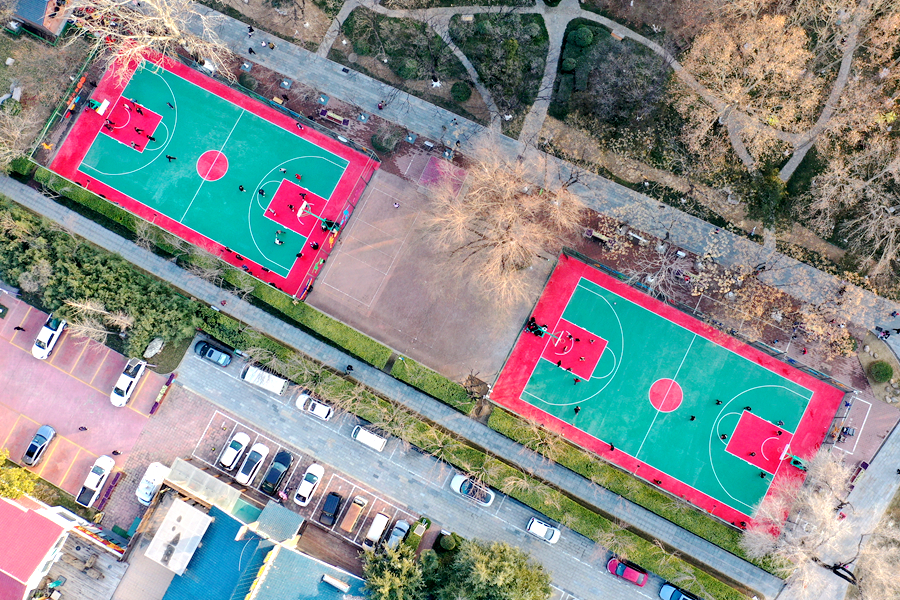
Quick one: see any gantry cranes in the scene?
No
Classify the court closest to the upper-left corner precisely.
basketball court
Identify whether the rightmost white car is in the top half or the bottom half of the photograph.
bottom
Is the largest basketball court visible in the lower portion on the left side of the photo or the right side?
right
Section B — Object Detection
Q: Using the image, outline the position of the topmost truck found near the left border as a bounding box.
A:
[34,314,69,359]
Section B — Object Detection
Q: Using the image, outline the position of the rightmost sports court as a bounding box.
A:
[834,397,872,454]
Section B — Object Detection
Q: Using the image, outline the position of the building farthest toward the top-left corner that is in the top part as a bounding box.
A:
[10,0,98,49]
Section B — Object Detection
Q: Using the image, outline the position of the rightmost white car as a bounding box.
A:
[522,513,563,544]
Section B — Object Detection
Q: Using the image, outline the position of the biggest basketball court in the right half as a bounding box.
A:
[490,254,846,548]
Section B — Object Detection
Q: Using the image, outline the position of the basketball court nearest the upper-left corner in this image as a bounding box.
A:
[50,38,379,302]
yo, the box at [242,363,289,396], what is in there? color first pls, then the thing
white van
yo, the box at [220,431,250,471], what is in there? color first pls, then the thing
white car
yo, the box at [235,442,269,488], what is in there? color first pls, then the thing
white car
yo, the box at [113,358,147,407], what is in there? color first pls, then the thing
white truck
